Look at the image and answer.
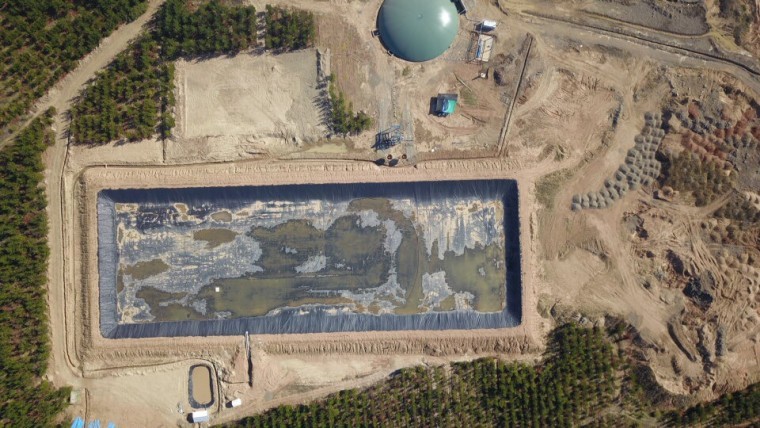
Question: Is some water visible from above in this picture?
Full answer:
Yes, there is water in the image.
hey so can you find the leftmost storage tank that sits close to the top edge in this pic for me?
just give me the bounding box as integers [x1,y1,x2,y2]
[372,0,460,63]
